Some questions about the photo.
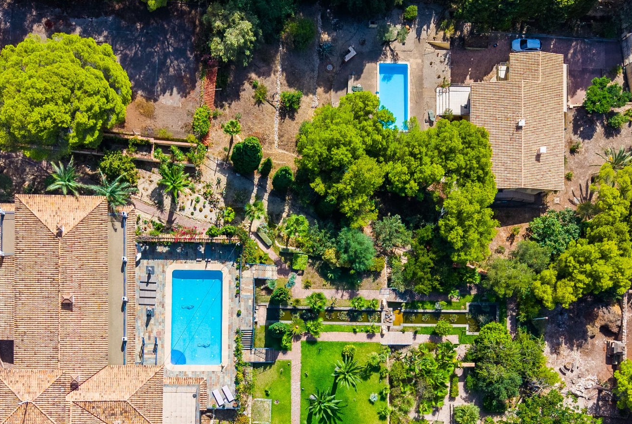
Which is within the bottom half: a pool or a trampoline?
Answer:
pool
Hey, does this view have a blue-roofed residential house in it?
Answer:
No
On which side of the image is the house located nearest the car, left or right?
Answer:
right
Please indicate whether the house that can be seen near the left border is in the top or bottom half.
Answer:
bottom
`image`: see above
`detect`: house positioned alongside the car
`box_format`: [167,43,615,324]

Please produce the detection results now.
[434,51,568,206]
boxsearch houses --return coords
[434,51,568,206]
[0,193,207,424]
